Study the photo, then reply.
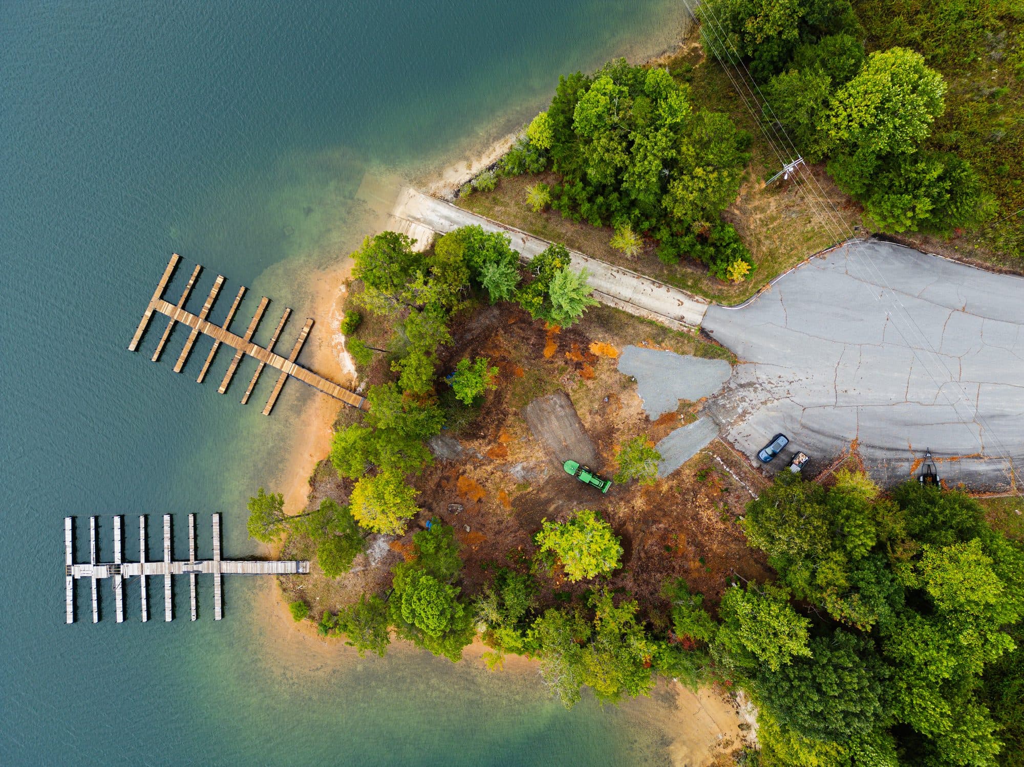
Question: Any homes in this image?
No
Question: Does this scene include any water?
Yes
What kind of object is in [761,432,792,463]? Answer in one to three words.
car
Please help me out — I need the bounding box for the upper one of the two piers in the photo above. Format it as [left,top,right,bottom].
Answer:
[125,253,370,416]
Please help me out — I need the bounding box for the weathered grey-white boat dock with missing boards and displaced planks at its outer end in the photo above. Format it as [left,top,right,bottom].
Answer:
[62,513,309,624]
